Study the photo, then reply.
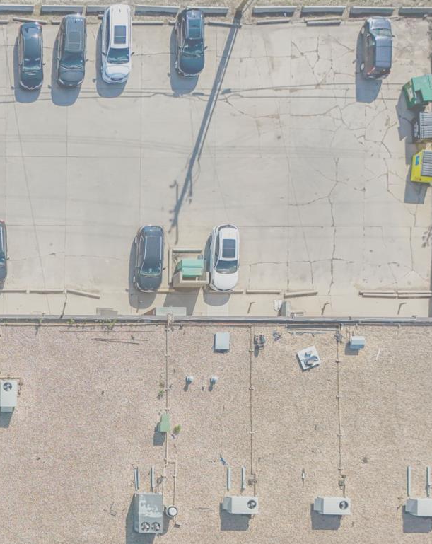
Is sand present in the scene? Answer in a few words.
No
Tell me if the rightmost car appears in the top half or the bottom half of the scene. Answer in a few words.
top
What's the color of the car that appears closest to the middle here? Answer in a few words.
white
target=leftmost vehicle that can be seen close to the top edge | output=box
[15,22,48,93]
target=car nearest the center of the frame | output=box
[208,224,242,293]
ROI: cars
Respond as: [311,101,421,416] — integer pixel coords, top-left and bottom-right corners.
[55,14,89,88]
[0,219,11,284]
[357,17,397,82]
[134,226,168,294]
[208,224,242,293]
[101,6,136,85]
[175,9,209,79]
[15,22,48,93]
